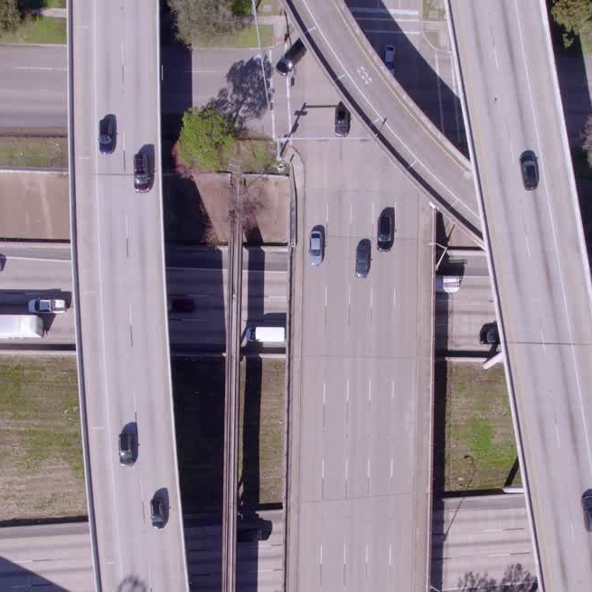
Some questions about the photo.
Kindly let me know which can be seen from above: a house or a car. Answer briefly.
car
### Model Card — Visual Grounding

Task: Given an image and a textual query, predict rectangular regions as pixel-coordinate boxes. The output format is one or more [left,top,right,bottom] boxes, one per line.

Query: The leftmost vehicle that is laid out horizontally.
[0,316,46,340]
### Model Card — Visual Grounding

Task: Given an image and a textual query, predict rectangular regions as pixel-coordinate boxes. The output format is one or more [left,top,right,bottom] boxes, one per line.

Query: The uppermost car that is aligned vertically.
[383,43,397,75]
